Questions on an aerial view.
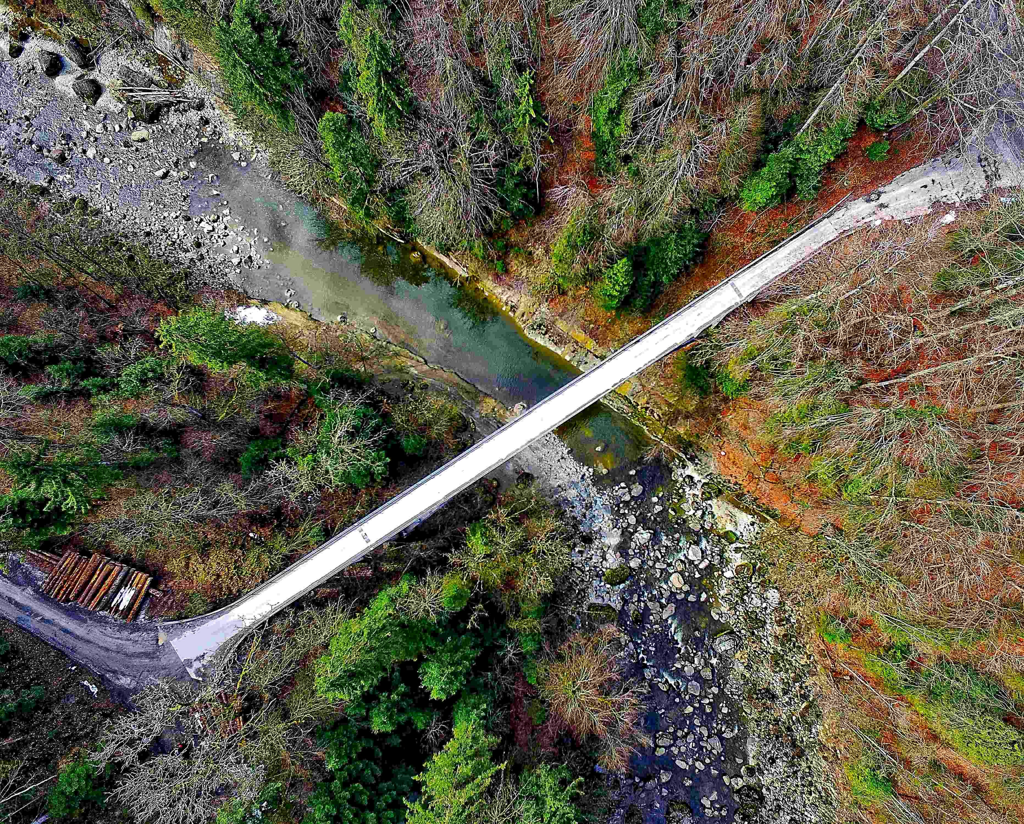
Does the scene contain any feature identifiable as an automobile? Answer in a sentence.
No, this view has no automobile in it.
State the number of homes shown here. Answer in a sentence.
Not a single home can be seen.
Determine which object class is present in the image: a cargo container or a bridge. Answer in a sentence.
Of the two, only a bridge appears.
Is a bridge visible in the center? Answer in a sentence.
Yes, you'll find a bridge in the center.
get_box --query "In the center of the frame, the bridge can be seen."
[178,209,842,667]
